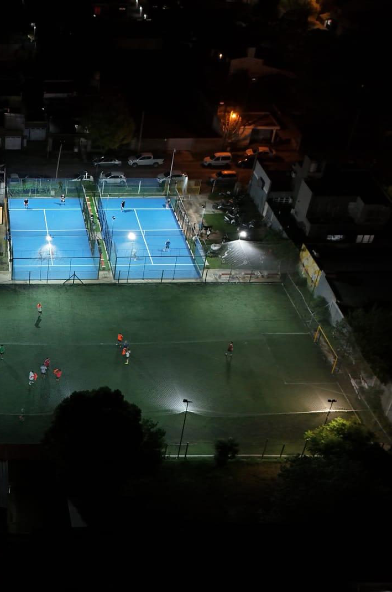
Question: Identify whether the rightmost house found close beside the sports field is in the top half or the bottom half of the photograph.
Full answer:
The rightmost house found close beside the sports field is in the top half of the image.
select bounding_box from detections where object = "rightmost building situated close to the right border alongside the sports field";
[274,145,387,239]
